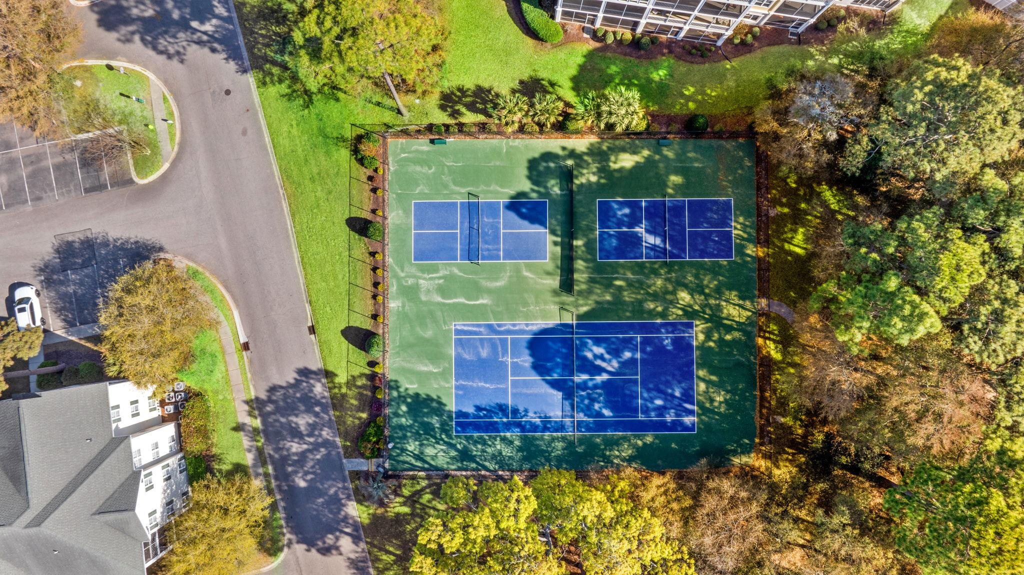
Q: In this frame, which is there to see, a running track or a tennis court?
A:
tennis court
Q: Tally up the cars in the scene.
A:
1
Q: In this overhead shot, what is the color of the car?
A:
white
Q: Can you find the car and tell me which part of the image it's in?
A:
left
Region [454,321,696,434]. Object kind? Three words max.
tennis court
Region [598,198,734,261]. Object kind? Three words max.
sports court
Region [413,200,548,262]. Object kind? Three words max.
sports court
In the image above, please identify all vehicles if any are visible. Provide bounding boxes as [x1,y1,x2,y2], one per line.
[12,281,45,331]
